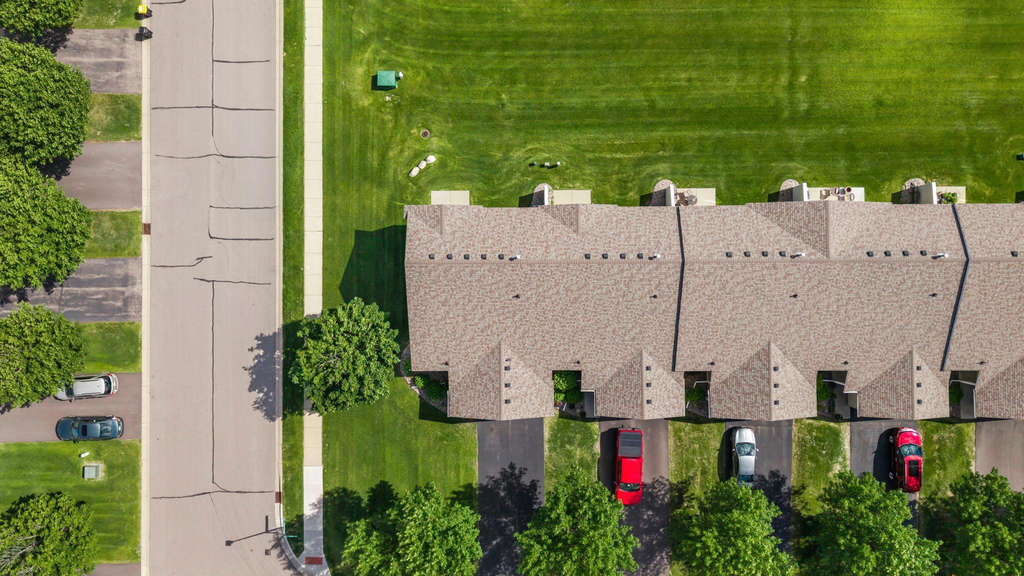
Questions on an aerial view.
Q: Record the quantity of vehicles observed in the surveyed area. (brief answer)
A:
five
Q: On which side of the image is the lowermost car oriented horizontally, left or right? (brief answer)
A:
left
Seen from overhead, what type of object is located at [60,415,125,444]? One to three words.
car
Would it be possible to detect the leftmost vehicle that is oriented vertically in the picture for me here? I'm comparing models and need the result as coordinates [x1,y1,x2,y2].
[614,423,645,503]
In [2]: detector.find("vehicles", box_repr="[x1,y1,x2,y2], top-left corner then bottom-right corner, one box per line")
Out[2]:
[60,372,122,402]
[888,428,923,492]
[728,425,759,488]
[60,415,125,444]
[614,423,645,503]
